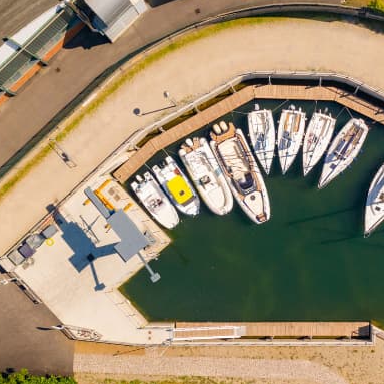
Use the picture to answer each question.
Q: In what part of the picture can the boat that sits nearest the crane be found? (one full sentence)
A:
You can find the boat that sits nearest the crane in the center area of the picture.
